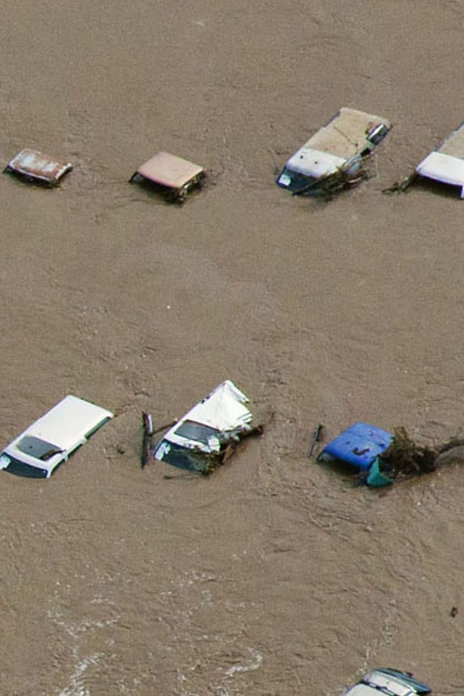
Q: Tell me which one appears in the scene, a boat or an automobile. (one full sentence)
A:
The image shows an automobile.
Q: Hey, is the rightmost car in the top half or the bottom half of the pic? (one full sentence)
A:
The rightmost car is in the top half of the image.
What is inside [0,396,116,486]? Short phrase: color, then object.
white car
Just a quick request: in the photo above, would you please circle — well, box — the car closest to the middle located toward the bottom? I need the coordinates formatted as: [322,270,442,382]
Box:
[153,380,253,477]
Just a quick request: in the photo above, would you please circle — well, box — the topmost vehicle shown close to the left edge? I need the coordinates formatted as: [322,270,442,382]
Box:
[4,149,73,191]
